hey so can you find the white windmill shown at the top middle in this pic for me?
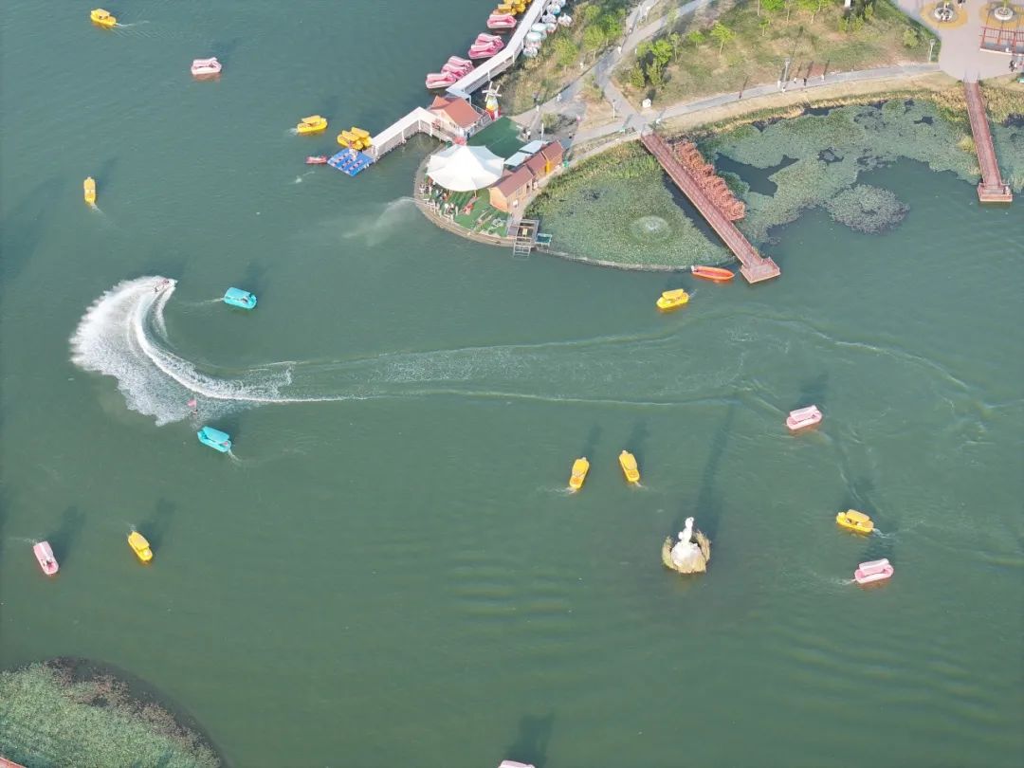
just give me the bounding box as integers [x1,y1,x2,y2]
[481,92,505,126]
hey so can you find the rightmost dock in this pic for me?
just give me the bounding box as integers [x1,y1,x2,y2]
[964,80,1014,209]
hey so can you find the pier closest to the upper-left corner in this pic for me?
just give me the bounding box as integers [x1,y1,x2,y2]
[328,149,374,178]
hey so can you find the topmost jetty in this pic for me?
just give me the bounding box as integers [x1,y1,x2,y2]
[447,0,557,98]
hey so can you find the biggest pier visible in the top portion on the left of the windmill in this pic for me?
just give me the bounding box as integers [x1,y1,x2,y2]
[371,107,444,165]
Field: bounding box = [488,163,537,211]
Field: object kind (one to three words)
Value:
building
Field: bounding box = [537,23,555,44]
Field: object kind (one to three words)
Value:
boat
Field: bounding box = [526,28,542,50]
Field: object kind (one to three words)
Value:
boat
